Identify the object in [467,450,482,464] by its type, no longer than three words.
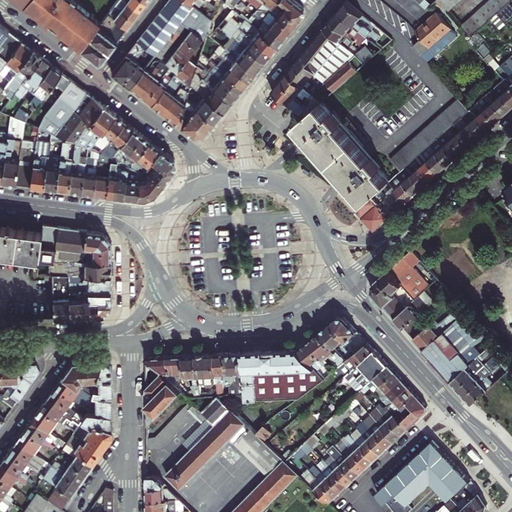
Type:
vehicle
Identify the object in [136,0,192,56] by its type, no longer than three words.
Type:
building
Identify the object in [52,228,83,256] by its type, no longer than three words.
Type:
house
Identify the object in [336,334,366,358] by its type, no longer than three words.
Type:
shed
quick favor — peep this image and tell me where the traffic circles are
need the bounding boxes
[104,148,369,348]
